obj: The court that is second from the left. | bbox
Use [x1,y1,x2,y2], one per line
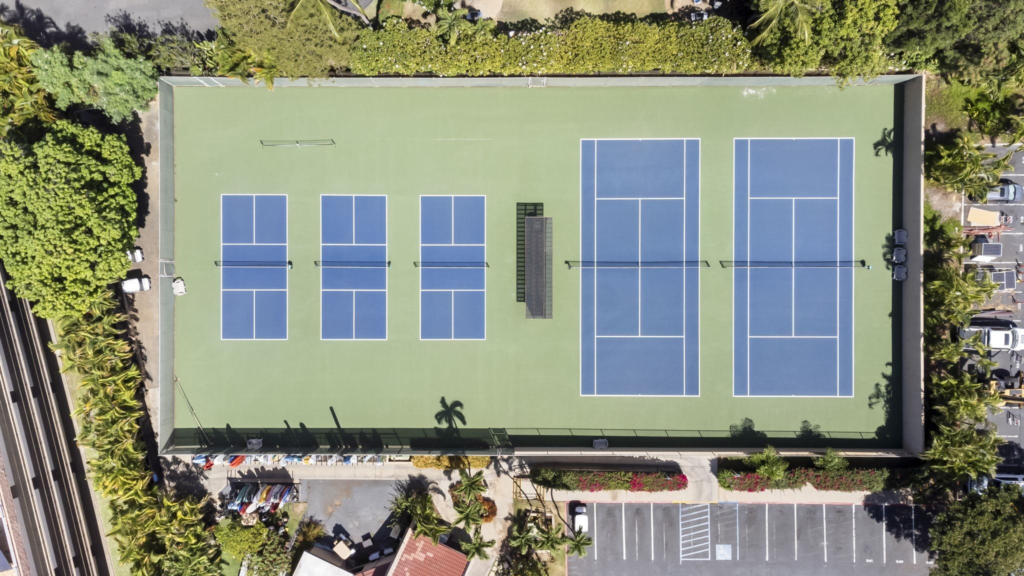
[321,194,387,340]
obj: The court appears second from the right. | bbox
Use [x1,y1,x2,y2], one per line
[581,138,700,396]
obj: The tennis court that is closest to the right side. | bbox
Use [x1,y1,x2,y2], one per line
[734,138,854,397]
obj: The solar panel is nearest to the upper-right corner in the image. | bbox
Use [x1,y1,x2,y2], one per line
[982,243,1003,256]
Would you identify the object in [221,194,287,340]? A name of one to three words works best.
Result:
sports court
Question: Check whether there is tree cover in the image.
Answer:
Yes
